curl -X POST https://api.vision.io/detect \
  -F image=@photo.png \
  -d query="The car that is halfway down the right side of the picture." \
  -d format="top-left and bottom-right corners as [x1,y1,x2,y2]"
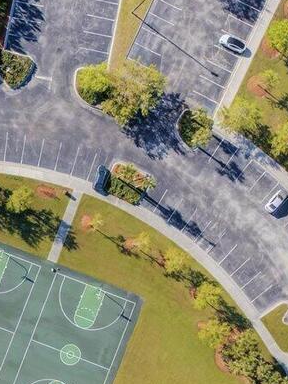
[263,189,288,214]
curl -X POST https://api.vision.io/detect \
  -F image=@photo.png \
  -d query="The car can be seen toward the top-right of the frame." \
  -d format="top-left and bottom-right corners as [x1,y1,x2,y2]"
[218,34,246,53]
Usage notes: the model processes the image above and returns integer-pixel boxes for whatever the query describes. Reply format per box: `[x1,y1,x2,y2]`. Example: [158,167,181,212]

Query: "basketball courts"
[0,243,50,384]
[4,263,143,384]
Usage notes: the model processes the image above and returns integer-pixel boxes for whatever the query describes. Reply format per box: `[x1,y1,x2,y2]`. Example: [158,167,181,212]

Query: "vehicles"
[218,34,246,53]
[94,165,111,193]
[263,189,288,214]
